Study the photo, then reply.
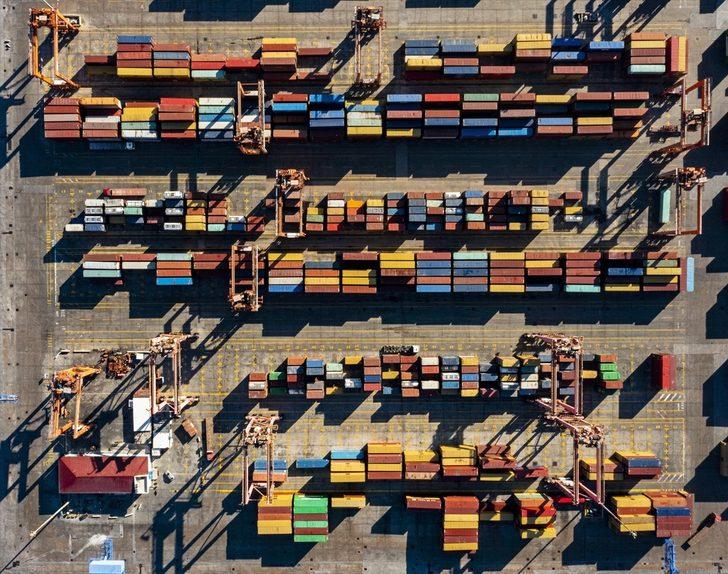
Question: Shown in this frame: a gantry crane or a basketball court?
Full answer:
The image shows a gantry crane.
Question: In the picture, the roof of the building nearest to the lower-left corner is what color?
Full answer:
The roof of the building nearest to the lower-left corner is red.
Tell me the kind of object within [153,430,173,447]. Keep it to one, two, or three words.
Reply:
shed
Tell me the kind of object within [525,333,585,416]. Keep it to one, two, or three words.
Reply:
container crane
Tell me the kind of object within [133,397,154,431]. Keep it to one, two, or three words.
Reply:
shed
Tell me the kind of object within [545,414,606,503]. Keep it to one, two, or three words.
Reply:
container crane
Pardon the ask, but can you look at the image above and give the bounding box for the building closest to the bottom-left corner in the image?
[60,454,159,494]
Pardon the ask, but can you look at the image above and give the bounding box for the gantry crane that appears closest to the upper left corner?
[26,2,94,97]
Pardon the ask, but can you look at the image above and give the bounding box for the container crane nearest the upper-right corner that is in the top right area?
[644,78,714,160]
